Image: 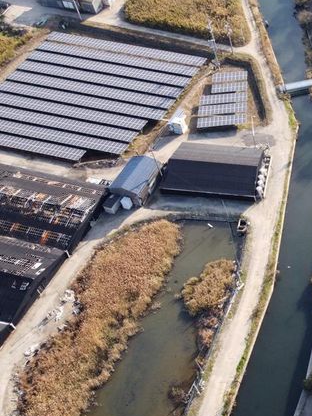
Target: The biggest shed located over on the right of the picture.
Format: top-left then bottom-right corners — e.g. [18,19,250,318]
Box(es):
[160,142,264,205]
